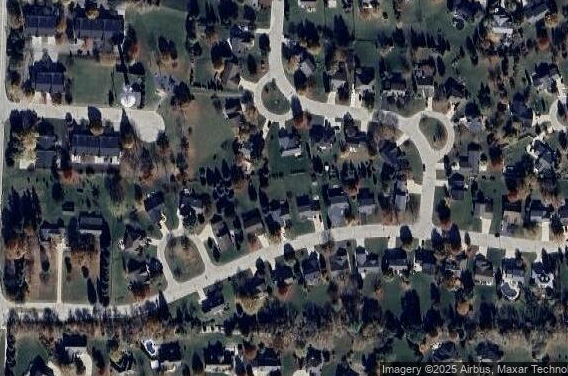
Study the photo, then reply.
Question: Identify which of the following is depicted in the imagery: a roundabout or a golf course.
roundabout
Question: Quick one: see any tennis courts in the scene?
No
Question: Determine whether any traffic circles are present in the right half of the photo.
Yes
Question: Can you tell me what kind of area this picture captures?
residential area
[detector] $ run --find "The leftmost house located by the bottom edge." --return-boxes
[23,355,55,376]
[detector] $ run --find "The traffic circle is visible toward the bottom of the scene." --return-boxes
[156,230,212,291]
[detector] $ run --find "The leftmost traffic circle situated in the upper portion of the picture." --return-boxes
[252,71,300,122]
